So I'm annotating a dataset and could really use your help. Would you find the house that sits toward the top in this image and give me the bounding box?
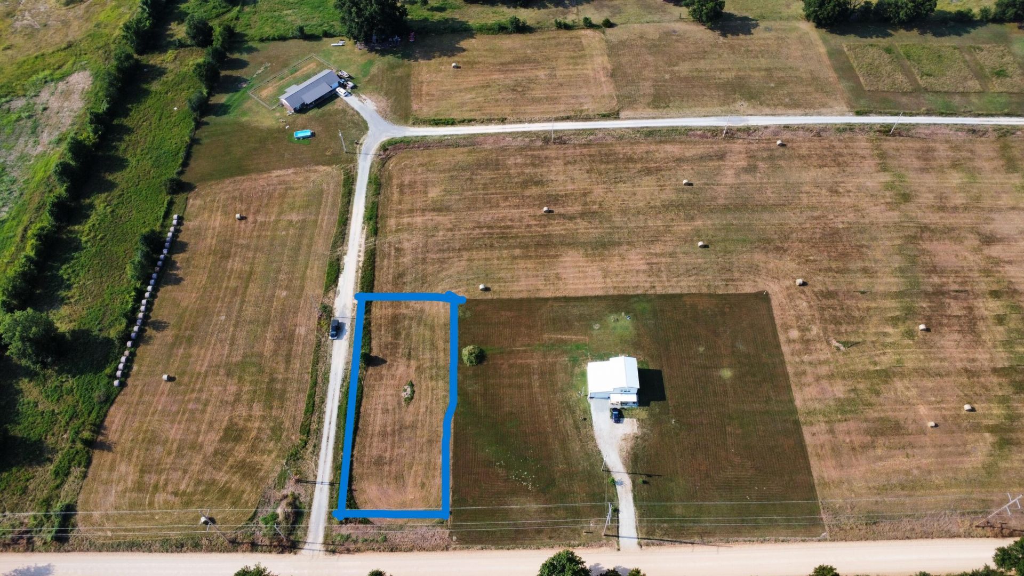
[279,70,345,113]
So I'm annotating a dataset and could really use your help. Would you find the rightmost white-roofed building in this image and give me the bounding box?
[587,358,640,412]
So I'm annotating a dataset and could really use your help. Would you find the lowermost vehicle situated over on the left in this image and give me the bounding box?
[328,319,340,339]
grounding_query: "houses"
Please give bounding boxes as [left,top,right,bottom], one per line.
[279,70,345,113]
[587,358,640,412]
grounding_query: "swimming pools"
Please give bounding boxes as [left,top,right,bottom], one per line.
[294,129,313,142]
